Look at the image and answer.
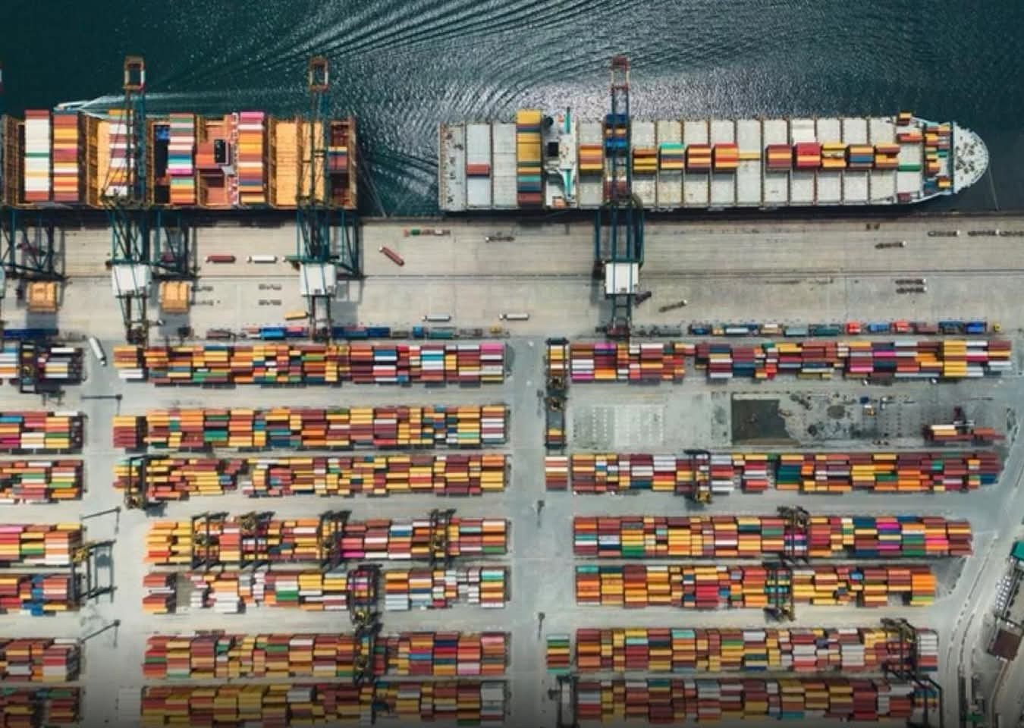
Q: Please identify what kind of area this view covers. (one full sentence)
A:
What you see here is a port.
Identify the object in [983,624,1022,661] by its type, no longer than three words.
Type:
building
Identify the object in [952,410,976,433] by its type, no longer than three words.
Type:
work vehicle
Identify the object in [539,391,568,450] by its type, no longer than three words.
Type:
crane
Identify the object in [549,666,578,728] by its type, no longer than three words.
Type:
crane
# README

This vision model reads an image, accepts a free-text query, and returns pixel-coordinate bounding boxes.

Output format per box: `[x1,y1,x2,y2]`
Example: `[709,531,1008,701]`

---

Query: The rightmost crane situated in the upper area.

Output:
[578,55,642,339]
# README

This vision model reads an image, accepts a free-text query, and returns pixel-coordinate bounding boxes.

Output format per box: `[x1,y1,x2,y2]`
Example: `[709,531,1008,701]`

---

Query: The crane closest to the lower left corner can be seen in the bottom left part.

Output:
[69,534,115,601]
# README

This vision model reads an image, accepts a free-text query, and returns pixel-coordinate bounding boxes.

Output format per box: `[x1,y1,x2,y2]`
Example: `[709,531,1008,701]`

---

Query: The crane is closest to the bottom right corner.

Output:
[896,664,944,728]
